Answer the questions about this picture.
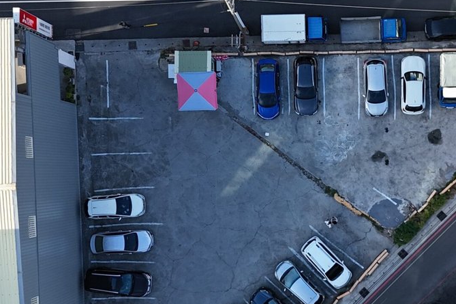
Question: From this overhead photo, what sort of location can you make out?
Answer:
parking lot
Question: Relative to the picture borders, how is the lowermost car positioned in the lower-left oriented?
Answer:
horizontally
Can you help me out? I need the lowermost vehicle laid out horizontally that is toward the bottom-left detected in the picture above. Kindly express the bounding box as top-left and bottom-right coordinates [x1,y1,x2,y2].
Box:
[83,267,152,300]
